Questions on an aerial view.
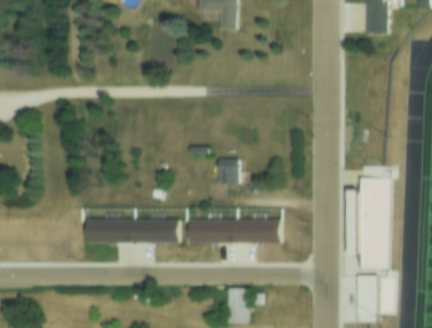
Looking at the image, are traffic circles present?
No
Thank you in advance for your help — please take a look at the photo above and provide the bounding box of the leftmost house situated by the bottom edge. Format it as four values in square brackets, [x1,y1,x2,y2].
[228,288,254,324]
